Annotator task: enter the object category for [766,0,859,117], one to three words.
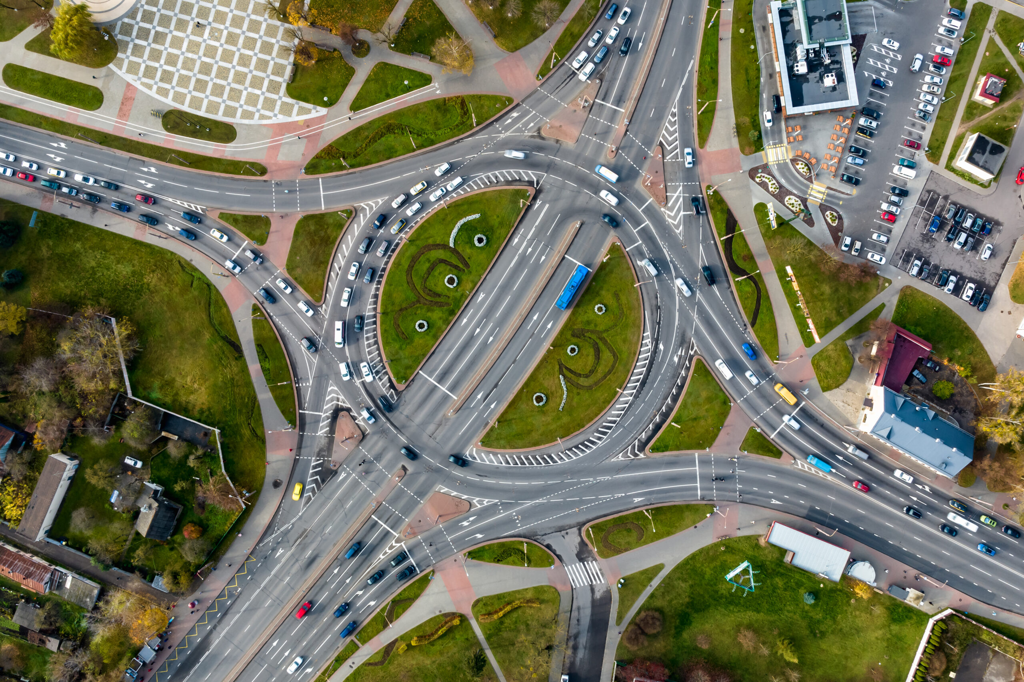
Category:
building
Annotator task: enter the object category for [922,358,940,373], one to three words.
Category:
car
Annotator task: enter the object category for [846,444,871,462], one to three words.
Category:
vehicle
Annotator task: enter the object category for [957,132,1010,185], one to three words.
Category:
house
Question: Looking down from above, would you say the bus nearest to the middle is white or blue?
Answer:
blue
